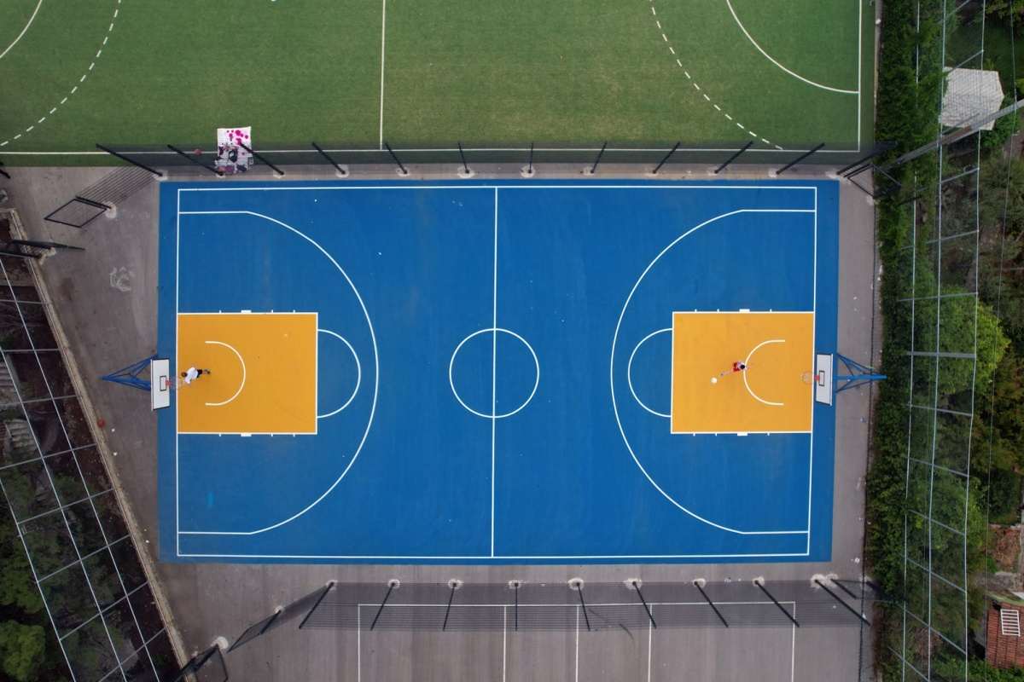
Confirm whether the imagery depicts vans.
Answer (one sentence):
No, there isn't any van down there.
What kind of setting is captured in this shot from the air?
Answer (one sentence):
It's a sports ground.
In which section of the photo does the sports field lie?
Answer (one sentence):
The sports field sits in the top section of the image.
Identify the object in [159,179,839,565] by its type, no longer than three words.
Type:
basketball court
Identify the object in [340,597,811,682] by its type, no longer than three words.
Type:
sports court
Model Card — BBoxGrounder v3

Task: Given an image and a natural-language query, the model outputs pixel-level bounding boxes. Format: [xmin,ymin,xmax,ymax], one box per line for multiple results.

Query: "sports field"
[0,0,876,165]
